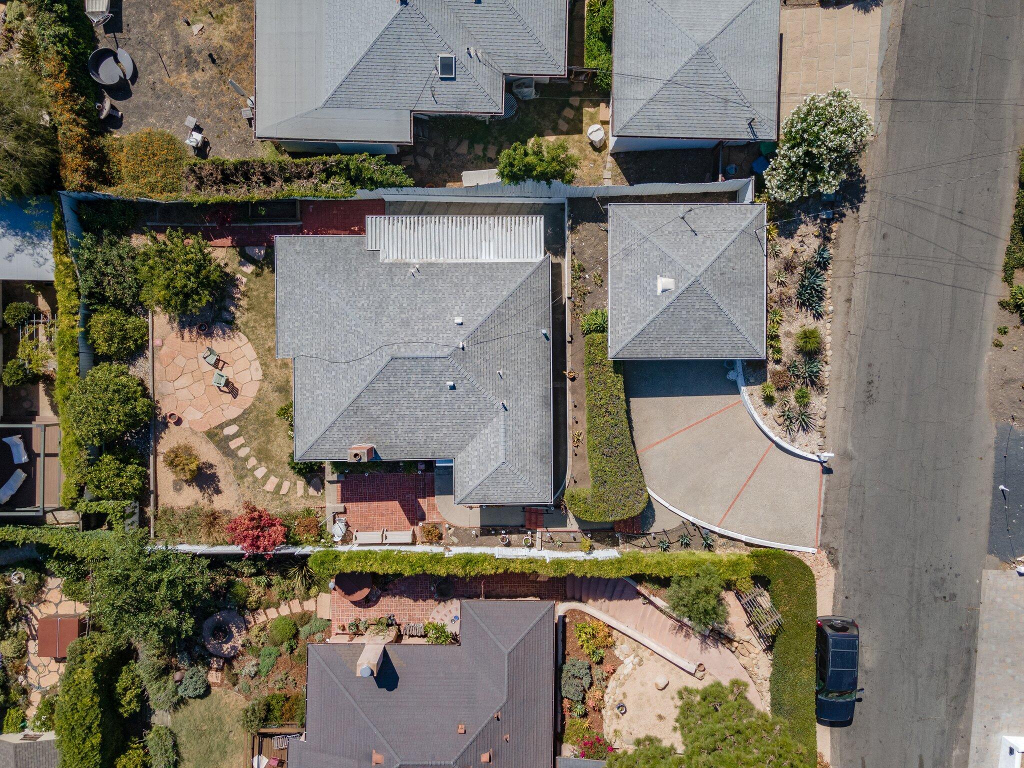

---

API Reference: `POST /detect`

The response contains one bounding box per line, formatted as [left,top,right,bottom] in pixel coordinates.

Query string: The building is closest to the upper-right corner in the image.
[609,0,781,152]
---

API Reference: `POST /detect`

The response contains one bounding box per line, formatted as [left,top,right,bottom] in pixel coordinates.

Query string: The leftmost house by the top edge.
[254,0,570,158]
